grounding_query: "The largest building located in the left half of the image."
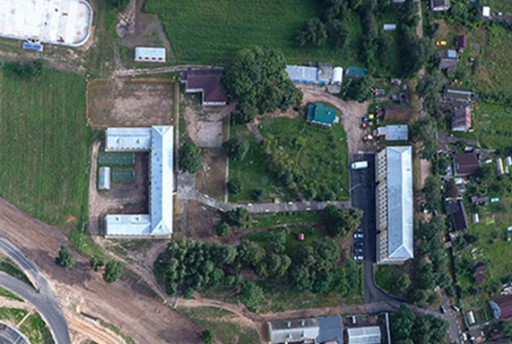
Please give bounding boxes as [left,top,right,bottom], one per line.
[106,126,179,241]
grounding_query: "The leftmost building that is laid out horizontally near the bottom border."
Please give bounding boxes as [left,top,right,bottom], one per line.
[265,318,320,343]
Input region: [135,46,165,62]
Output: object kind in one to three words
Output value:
shed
